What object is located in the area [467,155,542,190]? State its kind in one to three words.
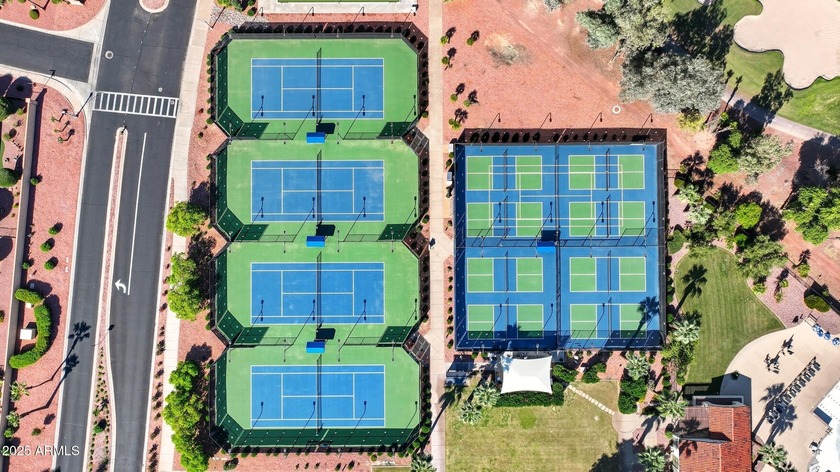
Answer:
sports court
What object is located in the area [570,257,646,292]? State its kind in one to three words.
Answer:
sports court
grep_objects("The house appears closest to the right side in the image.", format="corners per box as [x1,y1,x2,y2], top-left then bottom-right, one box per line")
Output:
[671,392,753,472]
